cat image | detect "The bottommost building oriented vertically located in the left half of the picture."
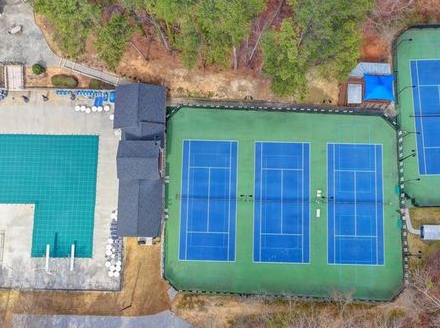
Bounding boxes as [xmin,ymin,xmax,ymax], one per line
[114,82,166,236]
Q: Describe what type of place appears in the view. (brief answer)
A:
sports ground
